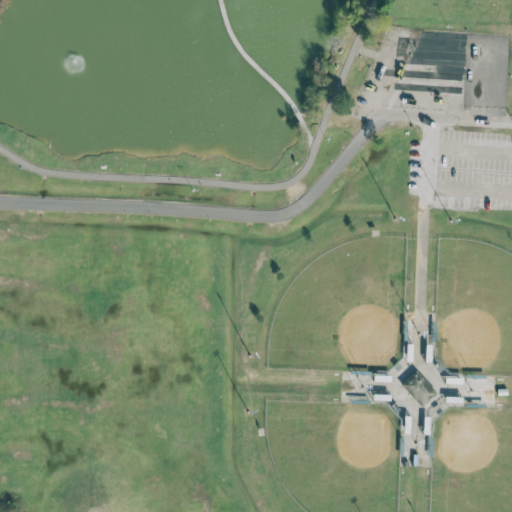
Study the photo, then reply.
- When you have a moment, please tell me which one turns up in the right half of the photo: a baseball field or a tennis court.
baseball field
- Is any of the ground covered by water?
Yes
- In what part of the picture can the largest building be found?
bottom right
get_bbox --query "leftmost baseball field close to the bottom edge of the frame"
[266,400,401,512]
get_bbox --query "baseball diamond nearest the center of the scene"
[268,236,406,372]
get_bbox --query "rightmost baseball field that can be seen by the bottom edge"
[430,404,512,512]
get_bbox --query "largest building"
[404,370,437,405]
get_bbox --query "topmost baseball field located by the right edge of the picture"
[437,238,512,376]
